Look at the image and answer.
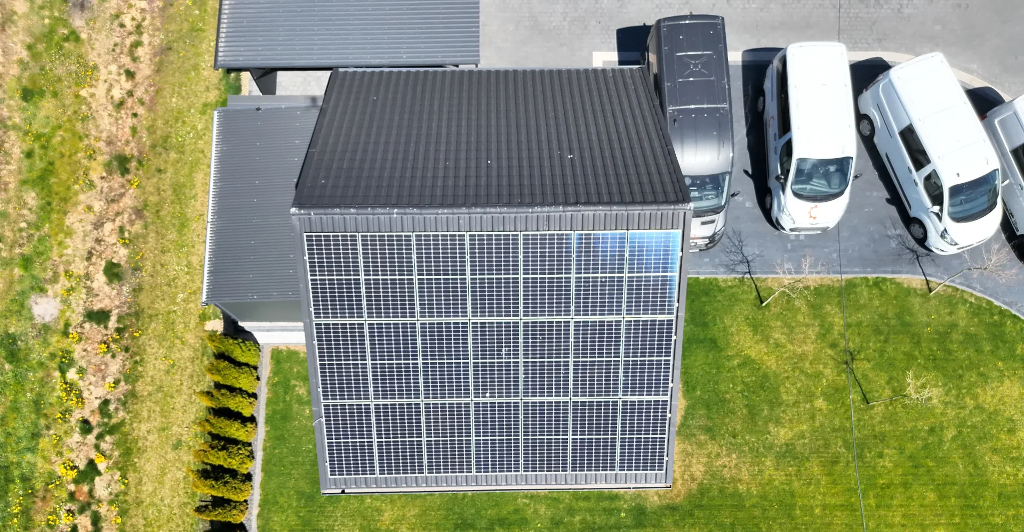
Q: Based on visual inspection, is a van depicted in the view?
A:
Yes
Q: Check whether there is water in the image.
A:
No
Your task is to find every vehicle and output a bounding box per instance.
[763,43,867,237]
[856,51,1003,258]
[639,10,748,256]
[977,92,1024,244]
